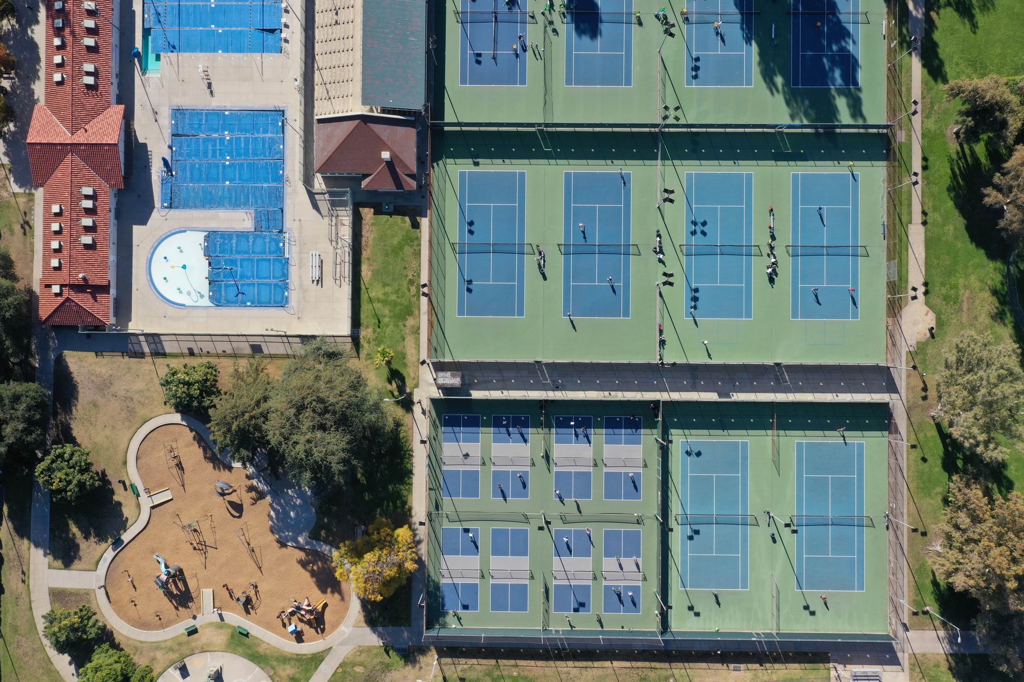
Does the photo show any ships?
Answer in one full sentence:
No, there's no ship here.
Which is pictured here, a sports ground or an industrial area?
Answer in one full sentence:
The picture captures a sports ground.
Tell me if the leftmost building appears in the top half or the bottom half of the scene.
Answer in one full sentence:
The leftmost building sits in the top half of the picture.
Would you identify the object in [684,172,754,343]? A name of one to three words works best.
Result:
tennis court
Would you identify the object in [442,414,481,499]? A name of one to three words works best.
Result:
sports court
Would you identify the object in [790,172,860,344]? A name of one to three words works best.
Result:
tennis court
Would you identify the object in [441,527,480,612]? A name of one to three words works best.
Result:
sports court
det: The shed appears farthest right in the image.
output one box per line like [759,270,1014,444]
[436,371,462,387]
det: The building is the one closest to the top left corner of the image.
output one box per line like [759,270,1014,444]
[26,0,130,326]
